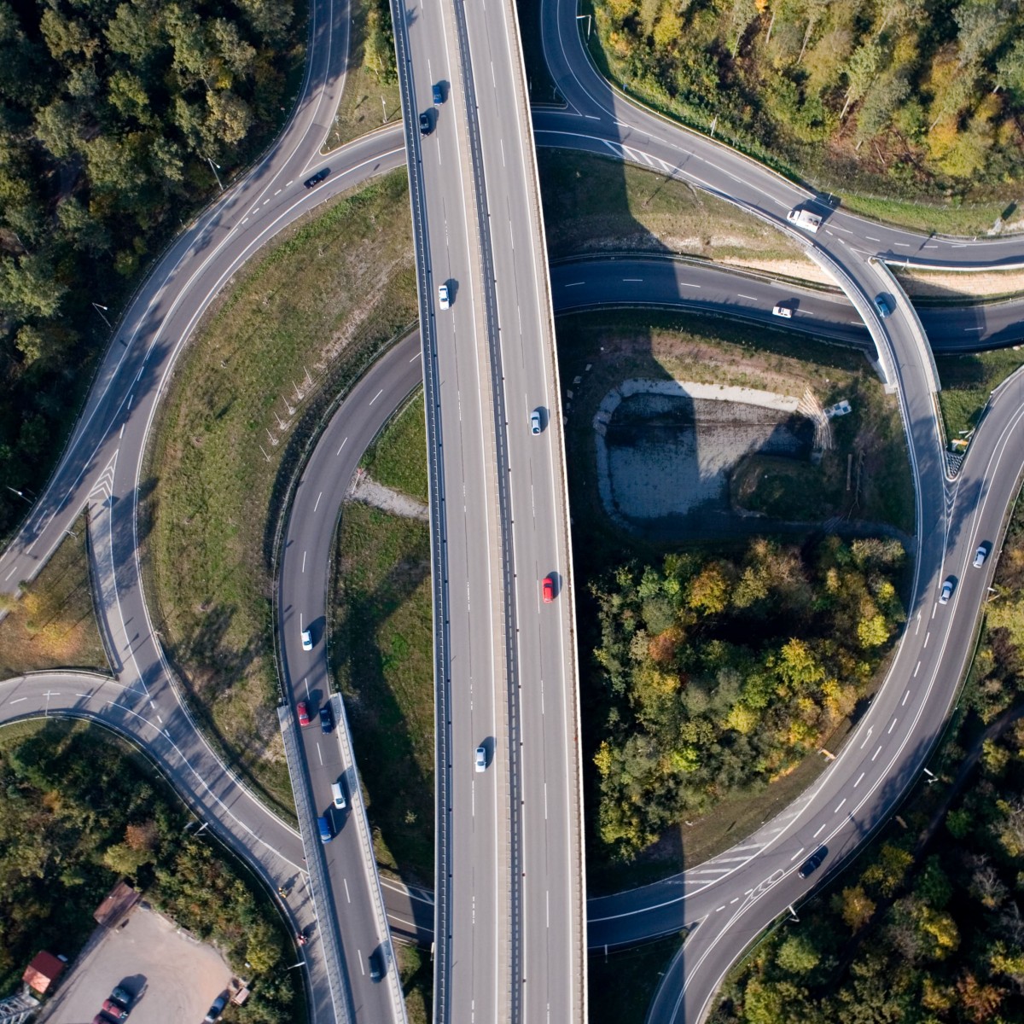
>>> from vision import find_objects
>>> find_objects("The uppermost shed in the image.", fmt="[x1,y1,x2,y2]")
[90,876,145,936]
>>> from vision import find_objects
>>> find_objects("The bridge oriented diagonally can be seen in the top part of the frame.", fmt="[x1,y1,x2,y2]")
[805,250,942,396]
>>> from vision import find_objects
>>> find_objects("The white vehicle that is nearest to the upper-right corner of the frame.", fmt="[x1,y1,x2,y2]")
[786,211,822,233]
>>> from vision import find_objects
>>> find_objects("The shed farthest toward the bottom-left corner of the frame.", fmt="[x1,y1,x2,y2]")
[20,946,68,996]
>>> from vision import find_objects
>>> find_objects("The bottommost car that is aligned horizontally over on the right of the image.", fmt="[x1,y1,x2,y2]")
[770,306,794,319]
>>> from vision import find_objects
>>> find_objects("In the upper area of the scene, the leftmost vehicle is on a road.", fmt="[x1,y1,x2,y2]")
[303,172,326,189]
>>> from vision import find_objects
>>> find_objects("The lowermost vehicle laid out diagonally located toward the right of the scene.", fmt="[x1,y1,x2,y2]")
[800,851,823,876]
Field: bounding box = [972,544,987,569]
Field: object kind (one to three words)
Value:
car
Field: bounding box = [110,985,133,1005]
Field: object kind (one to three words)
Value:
car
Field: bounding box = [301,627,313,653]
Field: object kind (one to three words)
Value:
vehicle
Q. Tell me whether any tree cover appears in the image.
Yes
